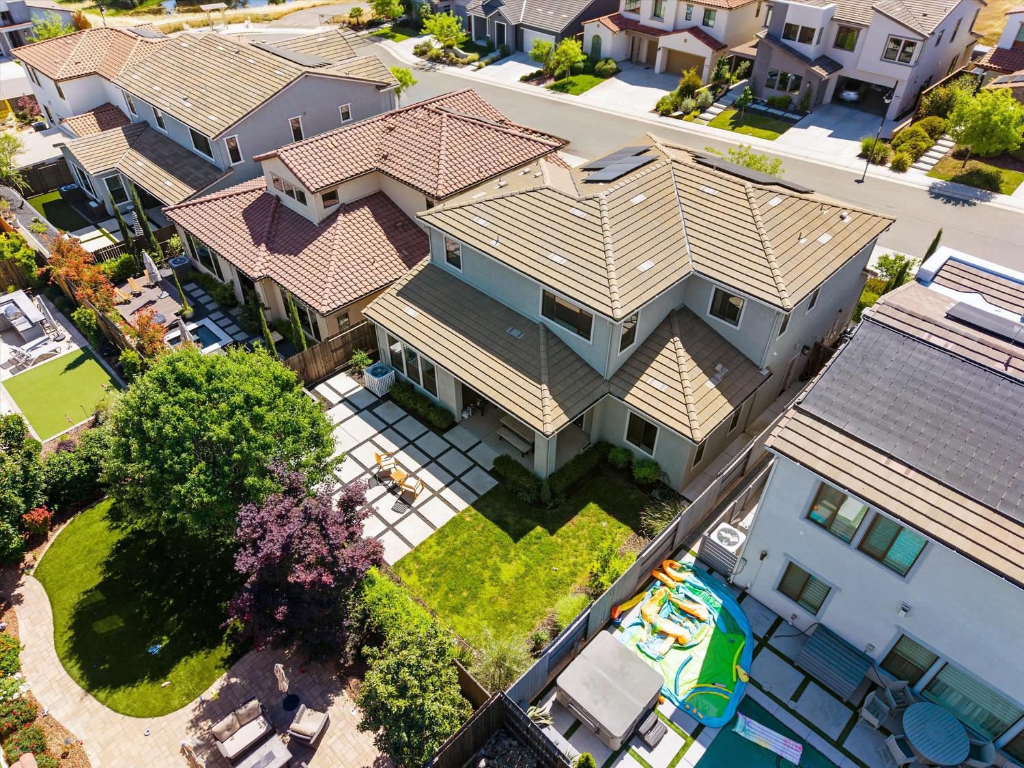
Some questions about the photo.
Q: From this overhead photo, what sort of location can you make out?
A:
residential area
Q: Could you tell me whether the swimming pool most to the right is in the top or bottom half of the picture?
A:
bottom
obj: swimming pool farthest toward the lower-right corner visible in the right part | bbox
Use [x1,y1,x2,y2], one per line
[697,698,838,768]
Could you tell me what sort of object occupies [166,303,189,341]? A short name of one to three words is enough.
umbrella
